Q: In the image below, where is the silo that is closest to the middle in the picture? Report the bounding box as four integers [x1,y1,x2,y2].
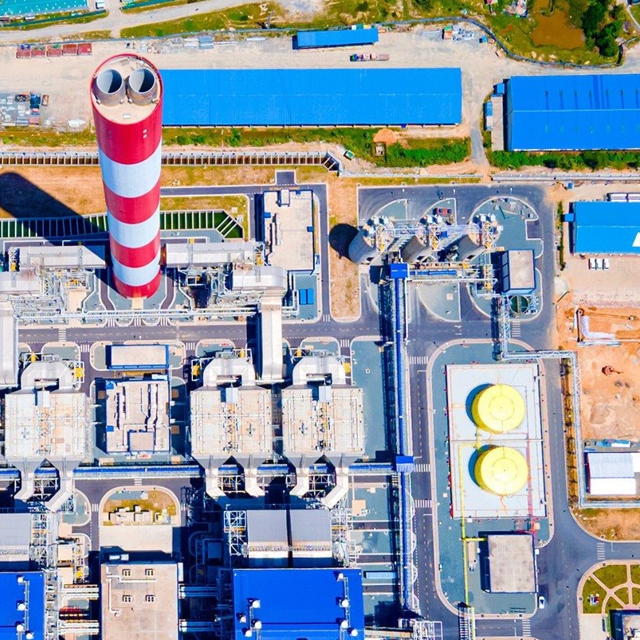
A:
[348,215,395,269]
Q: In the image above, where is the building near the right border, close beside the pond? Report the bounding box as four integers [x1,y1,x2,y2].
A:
[501,74,640,158]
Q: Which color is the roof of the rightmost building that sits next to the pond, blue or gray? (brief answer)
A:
blue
